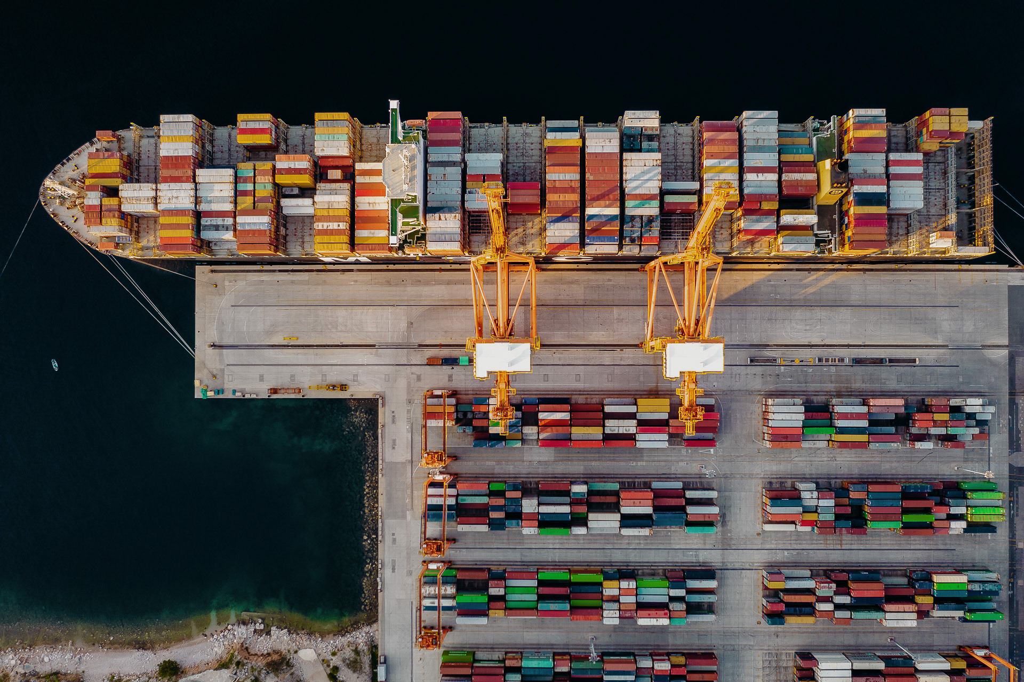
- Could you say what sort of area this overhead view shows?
port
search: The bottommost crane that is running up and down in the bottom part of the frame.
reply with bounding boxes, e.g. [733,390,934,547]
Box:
[411,562,454,654]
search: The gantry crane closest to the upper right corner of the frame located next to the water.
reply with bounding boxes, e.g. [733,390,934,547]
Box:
[631,185,739,439]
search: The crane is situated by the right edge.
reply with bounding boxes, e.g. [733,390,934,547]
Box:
[961,648,1021,682]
